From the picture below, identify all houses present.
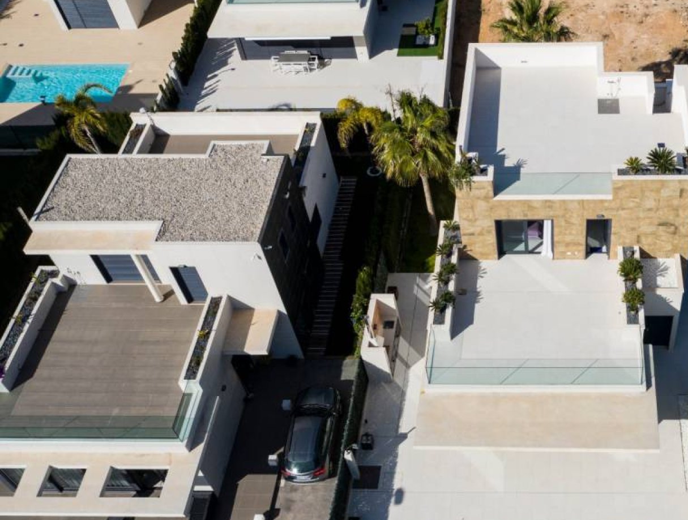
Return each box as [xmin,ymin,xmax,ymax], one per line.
[413,42,688,453]
[0,112,341,520]
[44,0,152,29]
[209,0,391,60]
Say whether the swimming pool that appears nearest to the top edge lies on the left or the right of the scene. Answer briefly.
left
